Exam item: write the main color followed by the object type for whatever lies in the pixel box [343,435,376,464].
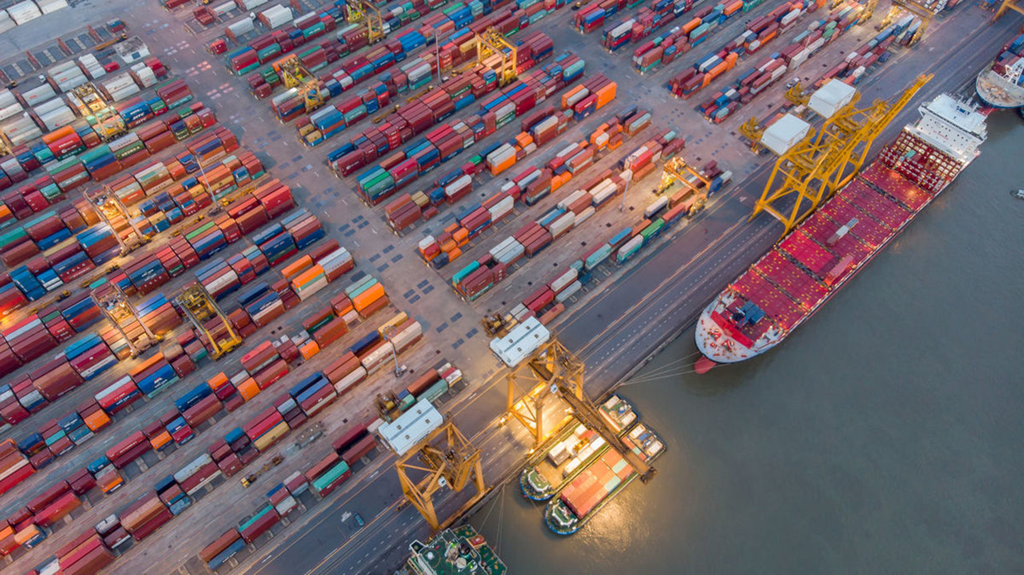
red shipping container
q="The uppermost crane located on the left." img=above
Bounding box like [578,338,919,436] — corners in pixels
[344,0,391,46]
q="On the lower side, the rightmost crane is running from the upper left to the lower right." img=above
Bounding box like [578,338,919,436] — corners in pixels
[486,313,668,489]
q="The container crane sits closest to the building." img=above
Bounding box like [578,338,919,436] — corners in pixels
[66,75,133,145]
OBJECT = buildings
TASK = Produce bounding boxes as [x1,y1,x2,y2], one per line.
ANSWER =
[113,35,149,62]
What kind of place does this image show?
port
